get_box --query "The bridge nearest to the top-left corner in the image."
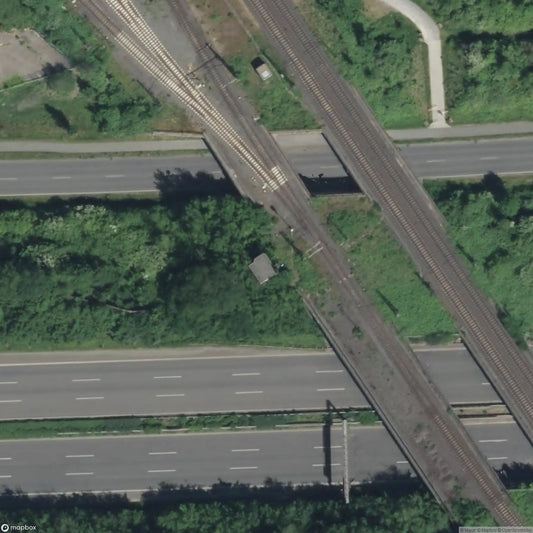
[204,128,310,200]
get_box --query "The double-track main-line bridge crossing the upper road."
[320,124,423,195]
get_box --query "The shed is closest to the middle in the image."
[249,255,275,283]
